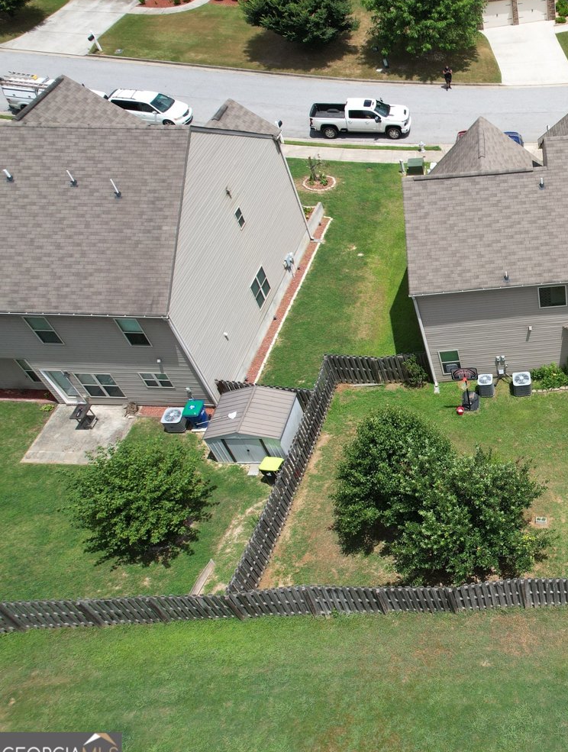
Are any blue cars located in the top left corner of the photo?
No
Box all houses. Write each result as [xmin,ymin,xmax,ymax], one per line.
[0,73,317,408]
[402,113,568,390]
[474,0,568,30]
